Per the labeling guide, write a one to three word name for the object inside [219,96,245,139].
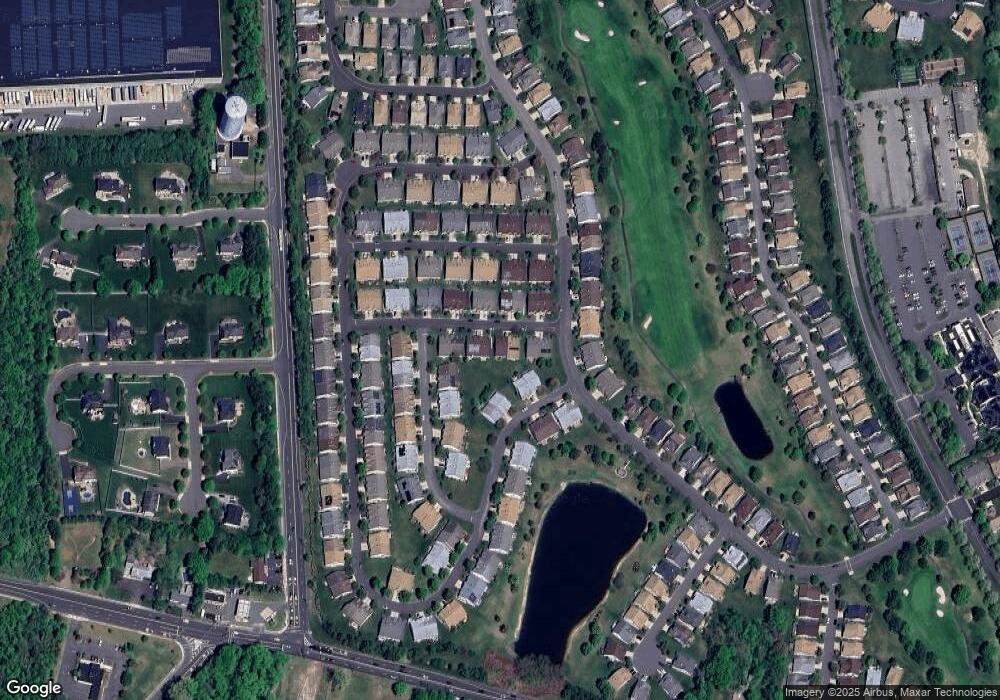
water tower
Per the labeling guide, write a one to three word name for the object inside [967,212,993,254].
tennis court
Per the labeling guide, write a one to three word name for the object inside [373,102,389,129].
house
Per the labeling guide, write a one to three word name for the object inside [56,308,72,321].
swimming pool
